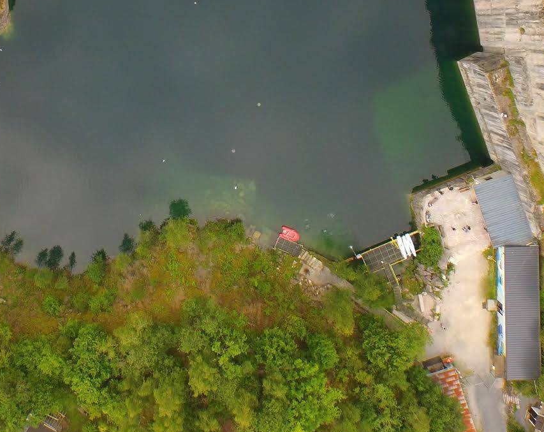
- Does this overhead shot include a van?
No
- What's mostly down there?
water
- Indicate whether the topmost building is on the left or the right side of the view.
right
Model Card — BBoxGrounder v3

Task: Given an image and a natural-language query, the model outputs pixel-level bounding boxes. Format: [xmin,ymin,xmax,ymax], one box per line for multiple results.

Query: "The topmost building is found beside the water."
[466,166,532,249]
